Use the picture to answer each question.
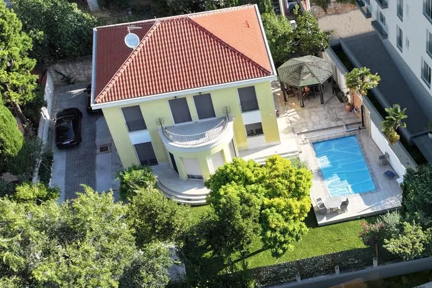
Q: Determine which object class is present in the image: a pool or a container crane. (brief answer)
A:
pool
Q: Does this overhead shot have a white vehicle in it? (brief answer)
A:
No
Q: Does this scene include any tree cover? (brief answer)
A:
Yes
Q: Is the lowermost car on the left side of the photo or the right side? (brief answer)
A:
left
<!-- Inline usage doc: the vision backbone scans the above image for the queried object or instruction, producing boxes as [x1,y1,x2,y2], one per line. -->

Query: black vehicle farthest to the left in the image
[53,100,81,146]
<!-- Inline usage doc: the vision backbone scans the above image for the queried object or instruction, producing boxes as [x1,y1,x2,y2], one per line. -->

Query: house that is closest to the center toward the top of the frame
[89,2,277,179]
